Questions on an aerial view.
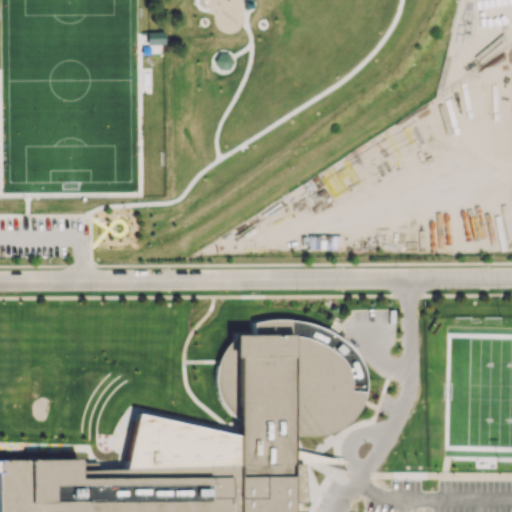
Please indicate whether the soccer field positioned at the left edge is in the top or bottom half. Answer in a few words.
top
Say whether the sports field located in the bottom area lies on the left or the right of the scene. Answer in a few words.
right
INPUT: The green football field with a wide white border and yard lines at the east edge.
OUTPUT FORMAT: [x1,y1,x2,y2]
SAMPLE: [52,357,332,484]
[445,327,512,456]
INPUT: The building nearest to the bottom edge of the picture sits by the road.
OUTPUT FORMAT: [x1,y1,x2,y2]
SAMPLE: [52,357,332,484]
[0,319,370,512]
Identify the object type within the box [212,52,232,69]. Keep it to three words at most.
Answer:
gazebo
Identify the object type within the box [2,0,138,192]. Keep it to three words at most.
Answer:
soccer field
